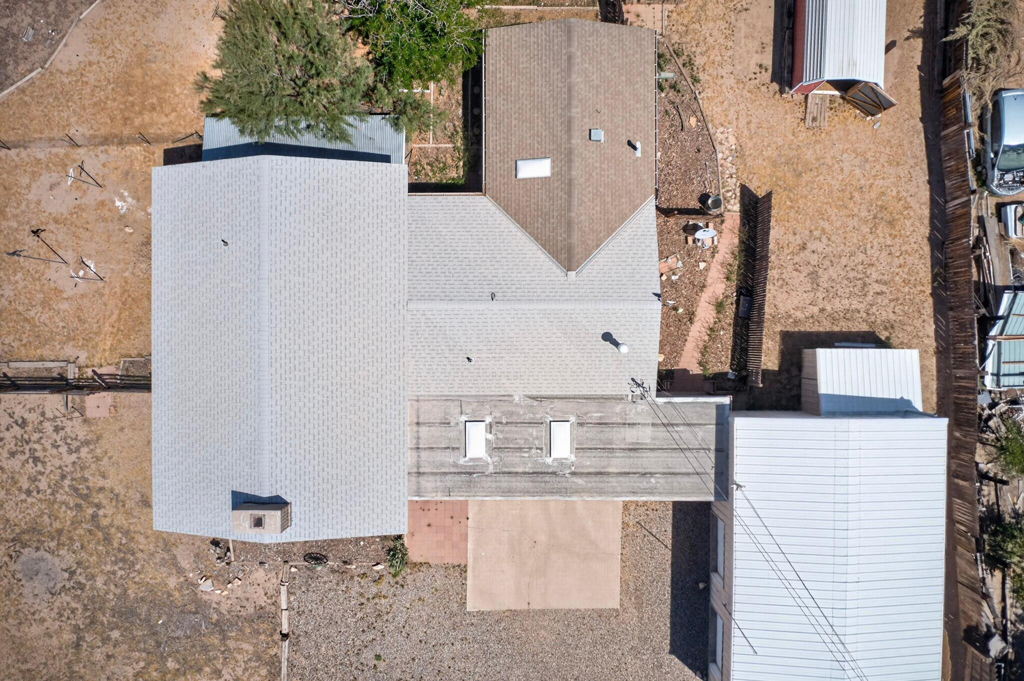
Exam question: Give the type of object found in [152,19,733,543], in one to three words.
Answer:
house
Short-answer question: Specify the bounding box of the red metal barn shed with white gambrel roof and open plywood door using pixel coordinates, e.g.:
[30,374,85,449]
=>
[791,0,893,117]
